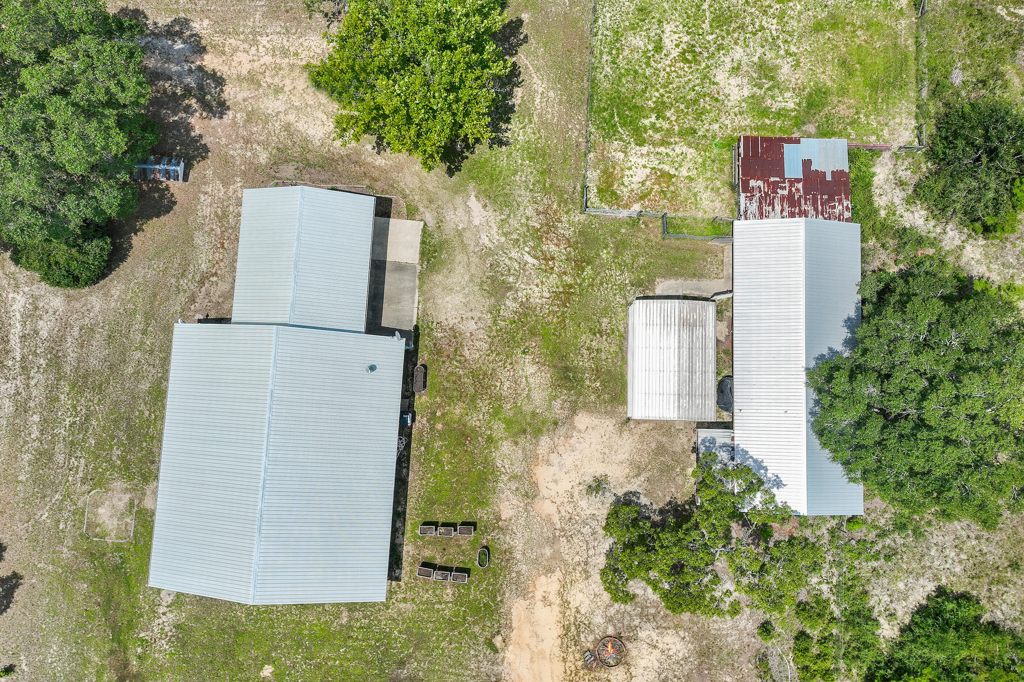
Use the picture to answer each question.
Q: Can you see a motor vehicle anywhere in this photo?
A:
No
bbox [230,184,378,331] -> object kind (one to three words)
building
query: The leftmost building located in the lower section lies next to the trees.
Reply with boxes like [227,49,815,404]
[147,322,406,607]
